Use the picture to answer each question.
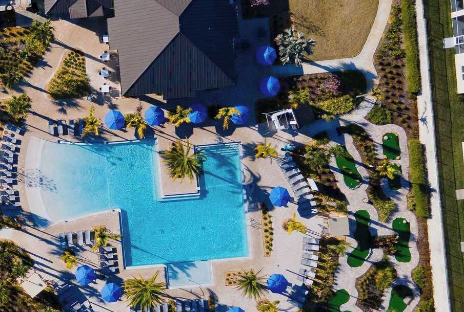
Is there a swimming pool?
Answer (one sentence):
Yes, the frame does contain a swimming pool.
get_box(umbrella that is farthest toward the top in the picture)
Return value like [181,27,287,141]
[256,44,276,66]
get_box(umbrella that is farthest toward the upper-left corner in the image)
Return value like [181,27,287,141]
[102,109,124,130]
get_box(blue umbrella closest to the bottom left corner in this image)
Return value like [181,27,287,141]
[75,266,95,285]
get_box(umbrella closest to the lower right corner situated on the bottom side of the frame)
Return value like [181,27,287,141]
[266,272,286,292]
